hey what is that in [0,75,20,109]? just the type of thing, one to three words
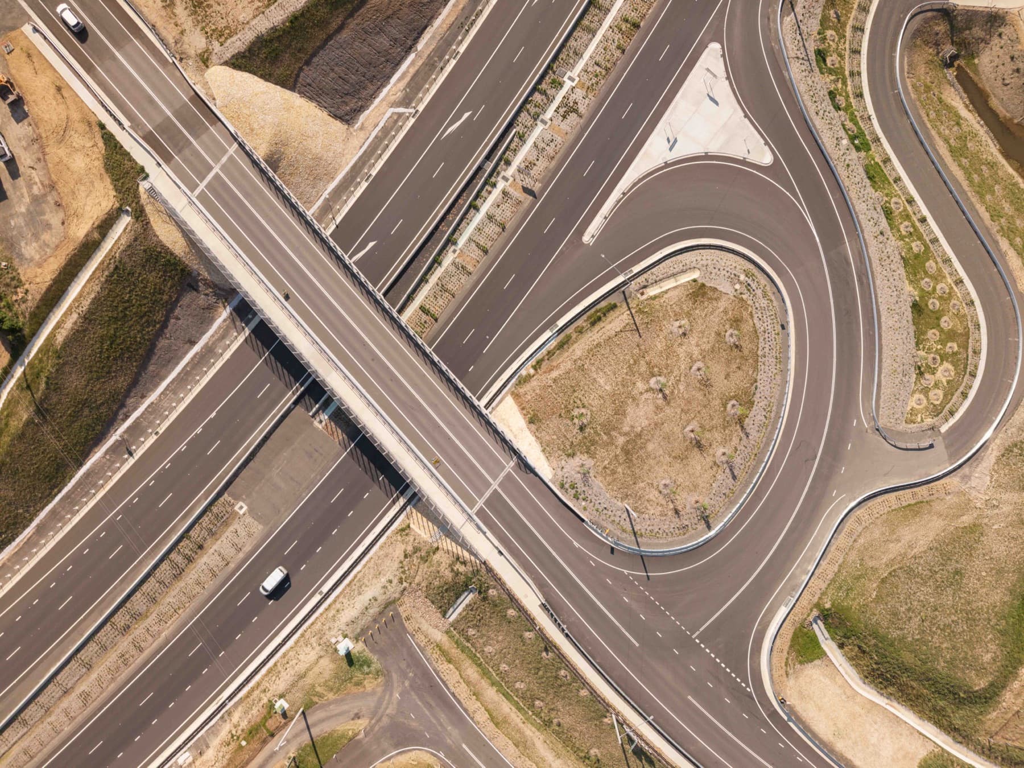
vehicle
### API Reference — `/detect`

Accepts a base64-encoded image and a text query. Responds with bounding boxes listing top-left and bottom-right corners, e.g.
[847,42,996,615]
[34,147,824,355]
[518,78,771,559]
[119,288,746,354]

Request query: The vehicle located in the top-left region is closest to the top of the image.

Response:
[56,3,85,33]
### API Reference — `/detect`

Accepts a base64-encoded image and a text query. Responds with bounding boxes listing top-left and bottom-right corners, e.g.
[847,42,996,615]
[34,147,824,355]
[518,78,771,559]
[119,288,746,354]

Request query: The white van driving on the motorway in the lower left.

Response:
[259,565,289,595]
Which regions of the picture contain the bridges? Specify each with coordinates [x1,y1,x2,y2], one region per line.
[120,58,586,604]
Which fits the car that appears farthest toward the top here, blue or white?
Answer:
white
